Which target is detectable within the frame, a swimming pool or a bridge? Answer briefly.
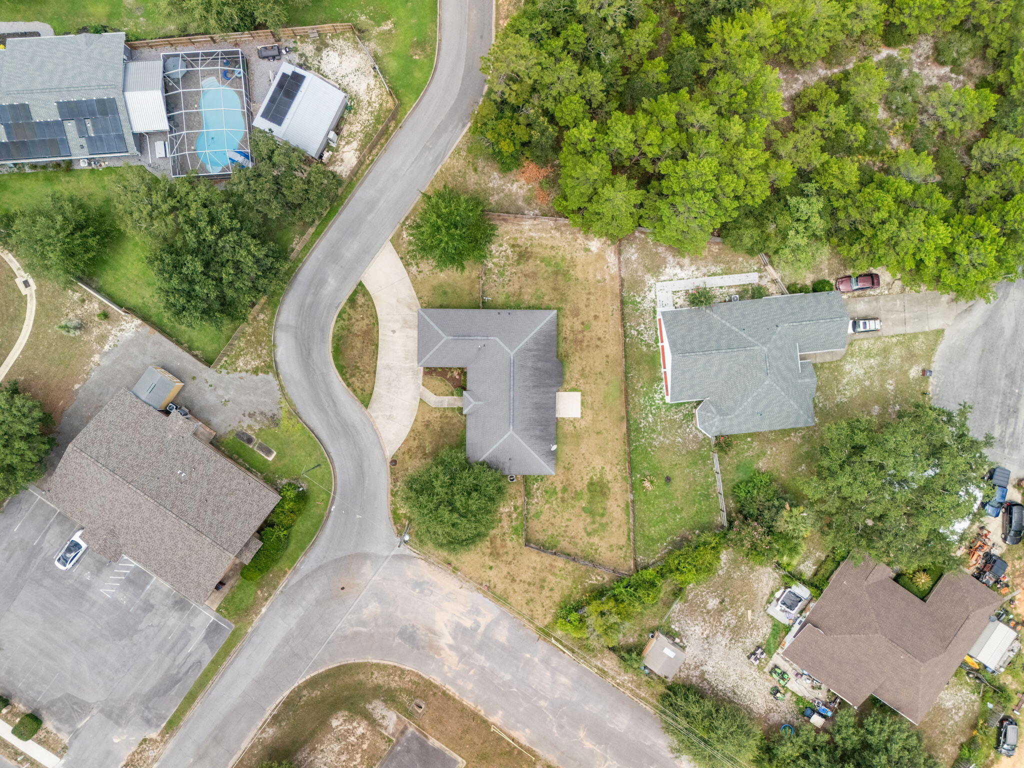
swimming pool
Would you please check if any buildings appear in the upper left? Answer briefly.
Yes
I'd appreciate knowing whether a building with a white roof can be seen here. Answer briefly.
Yes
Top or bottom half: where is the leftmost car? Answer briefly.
bottom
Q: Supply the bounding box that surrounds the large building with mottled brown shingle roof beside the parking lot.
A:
[43,388,283,604]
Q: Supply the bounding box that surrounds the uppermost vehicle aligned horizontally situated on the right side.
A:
[834,273,880,294]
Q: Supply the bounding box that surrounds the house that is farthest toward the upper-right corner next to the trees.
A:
[653,292,849,438]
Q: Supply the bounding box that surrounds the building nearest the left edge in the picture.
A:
[0,31,152,170]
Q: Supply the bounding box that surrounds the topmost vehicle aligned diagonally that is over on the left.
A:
[52,527,87,570]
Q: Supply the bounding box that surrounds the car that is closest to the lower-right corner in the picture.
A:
[993,714,1019,756]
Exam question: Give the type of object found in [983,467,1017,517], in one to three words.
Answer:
truck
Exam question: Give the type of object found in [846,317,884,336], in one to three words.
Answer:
car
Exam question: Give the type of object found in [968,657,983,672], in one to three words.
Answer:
boat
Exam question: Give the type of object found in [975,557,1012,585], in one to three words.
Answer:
vehicle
